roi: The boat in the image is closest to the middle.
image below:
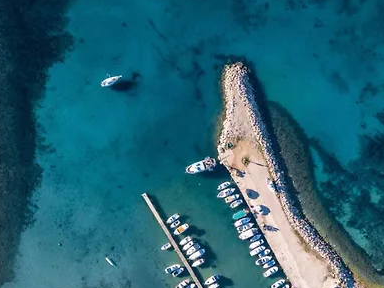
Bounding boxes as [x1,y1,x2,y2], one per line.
[185,157,219,172]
